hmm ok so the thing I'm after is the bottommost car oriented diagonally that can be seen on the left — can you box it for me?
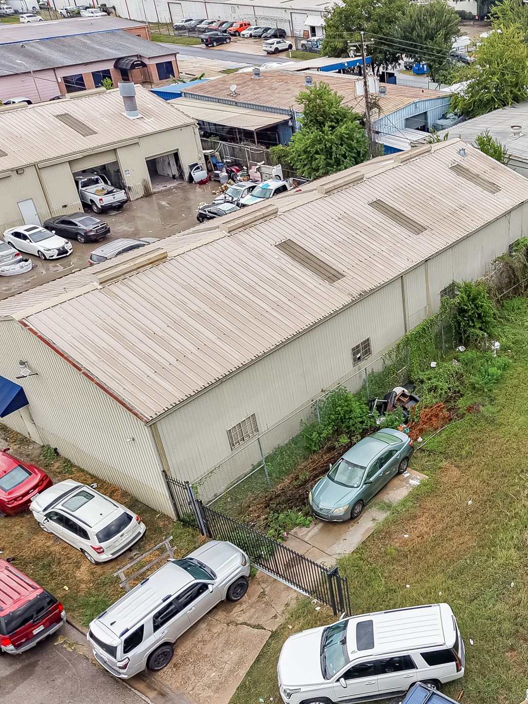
[81,543,250,682]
